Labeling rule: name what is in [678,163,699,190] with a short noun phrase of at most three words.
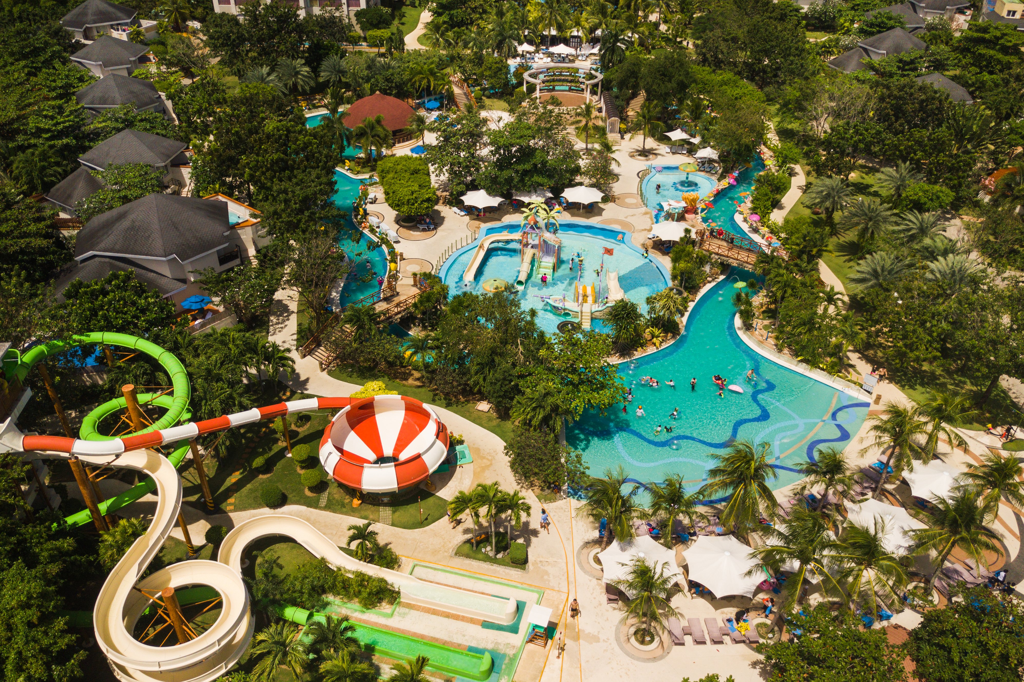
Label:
fountain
